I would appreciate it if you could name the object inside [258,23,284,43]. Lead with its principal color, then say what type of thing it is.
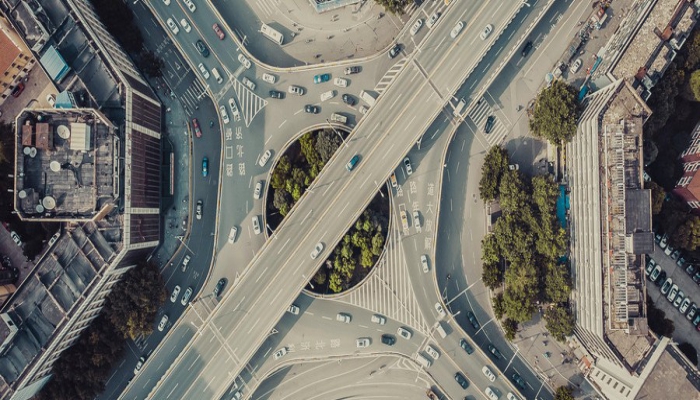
white vehicle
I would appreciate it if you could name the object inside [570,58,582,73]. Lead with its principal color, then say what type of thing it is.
white vehicle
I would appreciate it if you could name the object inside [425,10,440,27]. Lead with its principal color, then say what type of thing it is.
white car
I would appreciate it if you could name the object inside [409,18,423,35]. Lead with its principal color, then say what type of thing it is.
white car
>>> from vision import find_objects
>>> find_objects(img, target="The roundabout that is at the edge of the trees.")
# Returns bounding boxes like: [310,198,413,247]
[115,0,557,400]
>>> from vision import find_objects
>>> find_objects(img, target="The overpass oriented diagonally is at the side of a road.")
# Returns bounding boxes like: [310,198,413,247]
[139,0,530,400]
